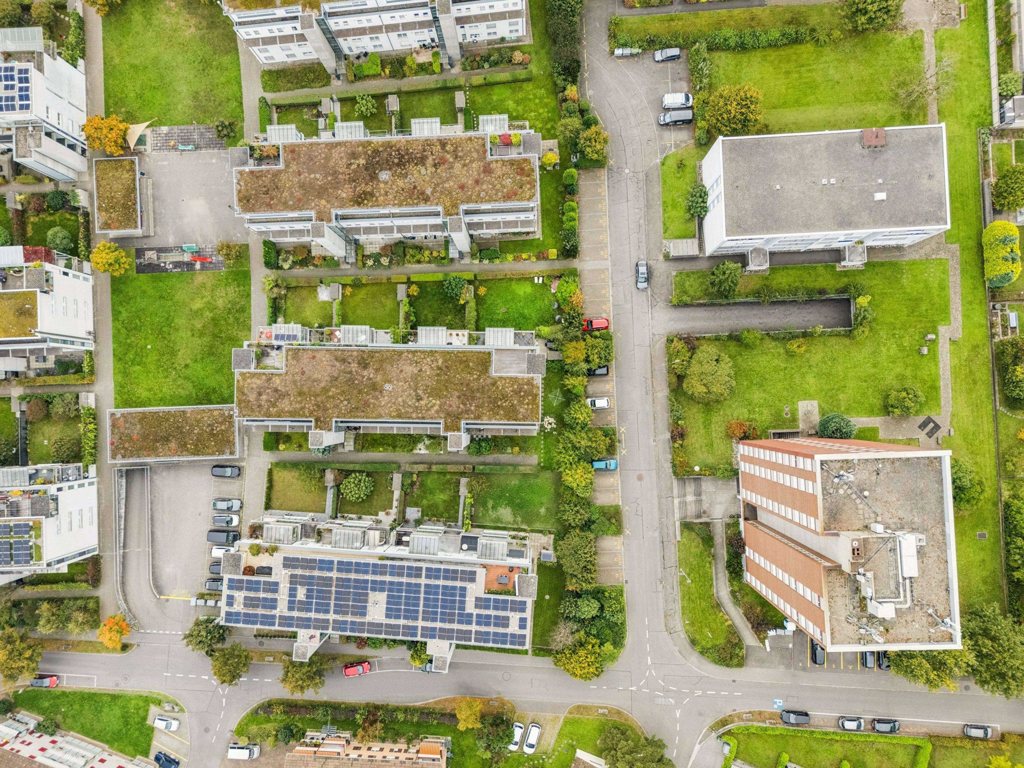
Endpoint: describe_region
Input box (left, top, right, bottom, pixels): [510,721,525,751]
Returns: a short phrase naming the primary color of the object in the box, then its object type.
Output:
white car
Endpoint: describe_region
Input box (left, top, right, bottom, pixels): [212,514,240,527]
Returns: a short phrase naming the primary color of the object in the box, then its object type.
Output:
white vehicle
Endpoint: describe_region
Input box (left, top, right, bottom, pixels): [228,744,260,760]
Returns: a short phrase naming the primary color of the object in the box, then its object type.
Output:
white vehicle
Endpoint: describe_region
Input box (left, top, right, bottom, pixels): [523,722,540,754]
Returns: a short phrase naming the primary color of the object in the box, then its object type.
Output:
white car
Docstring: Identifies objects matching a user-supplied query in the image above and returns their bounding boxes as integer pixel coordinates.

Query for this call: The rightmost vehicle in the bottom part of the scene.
[963,723,992,739]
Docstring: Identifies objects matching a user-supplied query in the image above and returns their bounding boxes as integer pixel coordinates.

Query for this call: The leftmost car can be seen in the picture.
[30,674,61,690]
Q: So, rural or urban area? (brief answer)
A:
urban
